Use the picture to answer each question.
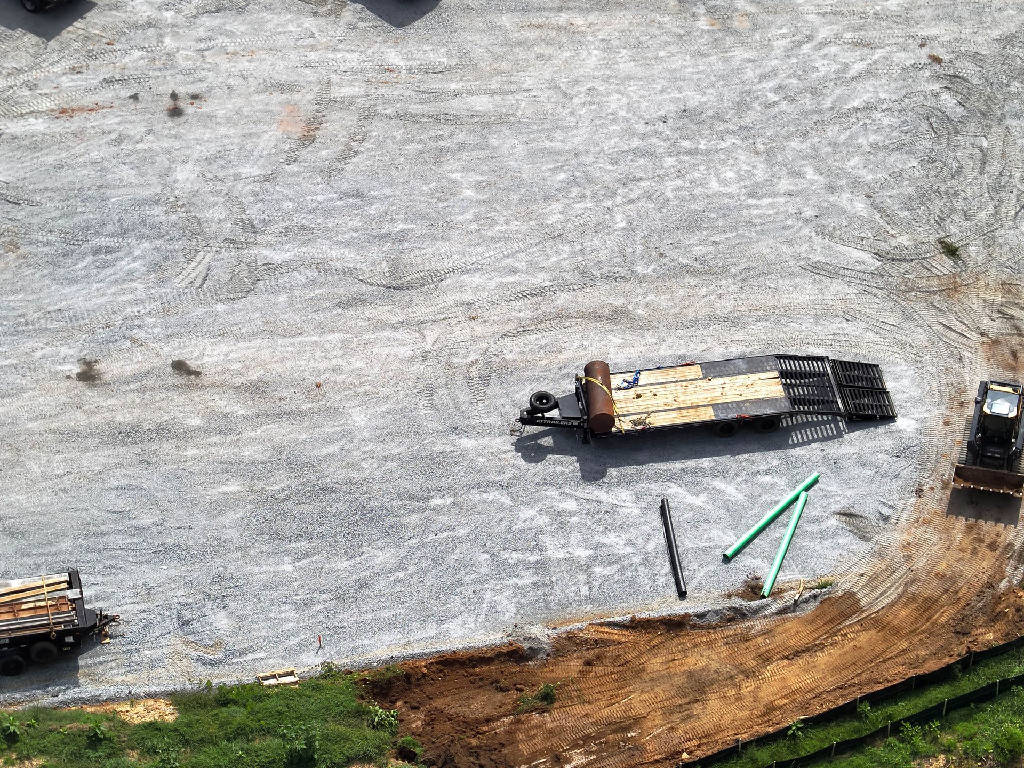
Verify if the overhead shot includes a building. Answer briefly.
No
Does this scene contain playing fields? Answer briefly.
No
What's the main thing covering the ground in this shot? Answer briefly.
paved ground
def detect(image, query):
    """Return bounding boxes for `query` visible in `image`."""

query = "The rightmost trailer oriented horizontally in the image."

[508,355,899,448]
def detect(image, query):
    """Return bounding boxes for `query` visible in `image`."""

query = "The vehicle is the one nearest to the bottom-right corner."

[953,379,1024,499]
